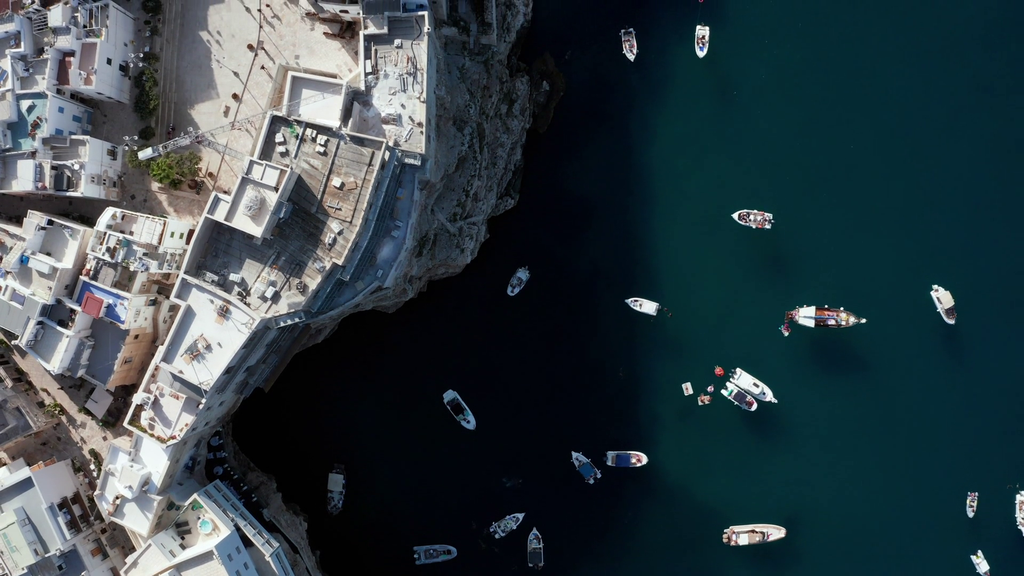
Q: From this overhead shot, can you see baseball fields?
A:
No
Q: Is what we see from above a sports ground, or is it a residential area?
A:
residential area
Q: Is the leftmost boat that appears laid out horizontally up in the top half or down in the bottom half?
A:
bottom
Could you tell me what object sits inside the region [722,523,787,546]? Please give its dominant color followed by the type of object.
white boat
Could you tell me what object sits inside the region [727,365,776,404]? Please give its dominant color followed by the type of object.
white boat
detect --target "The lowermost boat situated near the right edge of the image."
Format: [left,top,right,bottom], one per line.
[966,547,994,576]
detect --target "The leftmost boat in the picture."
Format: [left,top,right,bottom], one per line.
[326,463,348,516]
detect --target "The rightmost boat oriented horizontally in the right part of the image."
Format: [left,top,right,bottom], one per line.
[783,303,868,329]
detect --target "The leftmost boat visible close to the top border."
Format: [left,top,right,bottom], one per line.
[621,25,639,63]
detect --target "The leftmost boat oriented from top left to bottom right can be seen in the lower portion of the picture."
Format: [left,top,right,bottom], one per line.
[441,388,476,430]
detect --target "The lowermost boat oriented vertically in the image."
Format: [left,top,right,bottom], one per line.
[527,527,544,571]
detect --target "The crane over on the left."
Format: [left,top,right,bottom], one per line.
[134,66,393,163]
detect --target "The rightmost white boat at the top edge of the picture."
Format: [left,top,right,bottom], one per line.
[694,21,711,59]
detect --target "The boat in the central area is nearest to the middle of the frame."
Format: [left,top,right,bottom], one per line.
[509,264,531,295]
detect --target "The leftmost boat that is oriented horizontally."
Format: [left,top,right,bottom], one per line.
[412,544,458,564]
